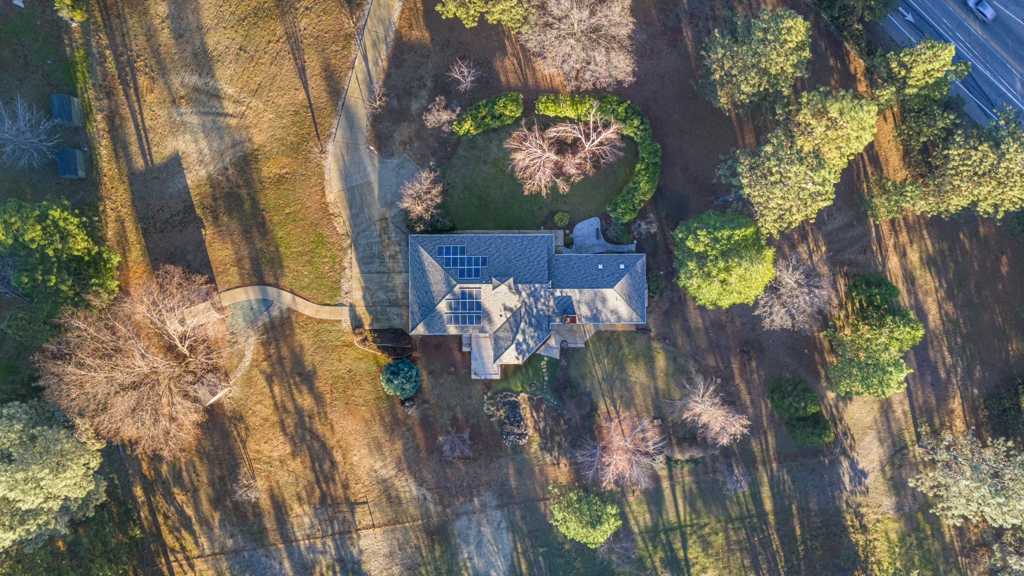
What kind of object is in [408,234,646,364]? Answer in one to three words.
house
